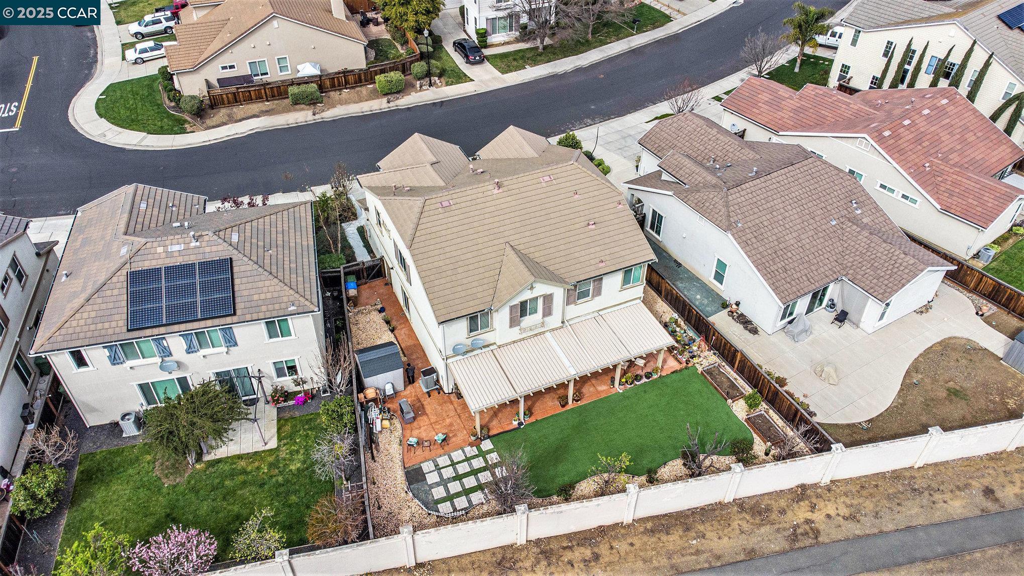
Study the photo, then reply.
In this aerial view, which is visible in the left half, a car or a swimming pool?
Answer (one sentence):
The one visible in the left half is a car.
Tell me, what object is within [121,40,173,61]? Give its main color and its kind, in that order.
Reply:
white car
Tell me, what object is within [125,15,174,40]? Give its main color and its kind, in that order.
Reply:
white car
